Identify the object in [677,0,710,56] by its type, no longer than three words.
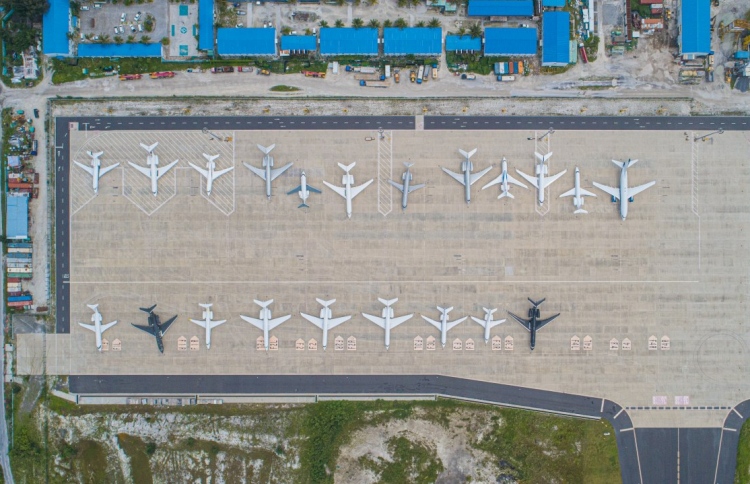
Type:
shed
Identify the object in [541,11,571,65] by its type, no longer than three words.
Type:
shed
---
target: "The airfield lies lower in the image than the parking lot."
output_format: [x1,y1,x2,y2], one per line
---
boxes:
[16,116,750,484]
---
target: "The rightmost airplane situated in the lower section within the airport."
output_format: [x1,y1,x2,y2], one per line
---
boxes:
[508,300,561,350]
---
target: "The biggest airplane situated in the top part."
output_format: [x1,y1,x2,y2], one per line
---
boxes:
[594,157,660,220]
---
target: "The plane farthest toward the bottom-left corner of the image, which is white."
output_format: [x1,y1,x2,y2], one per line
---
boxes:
[81,307,119,351]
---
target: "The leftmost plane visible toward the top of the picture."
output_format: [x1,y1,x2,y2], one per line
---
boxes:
[73,151,121,193]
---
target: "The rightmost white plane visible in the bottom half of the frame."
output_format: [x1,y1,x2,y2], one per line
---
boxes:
[471,306,507,343]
